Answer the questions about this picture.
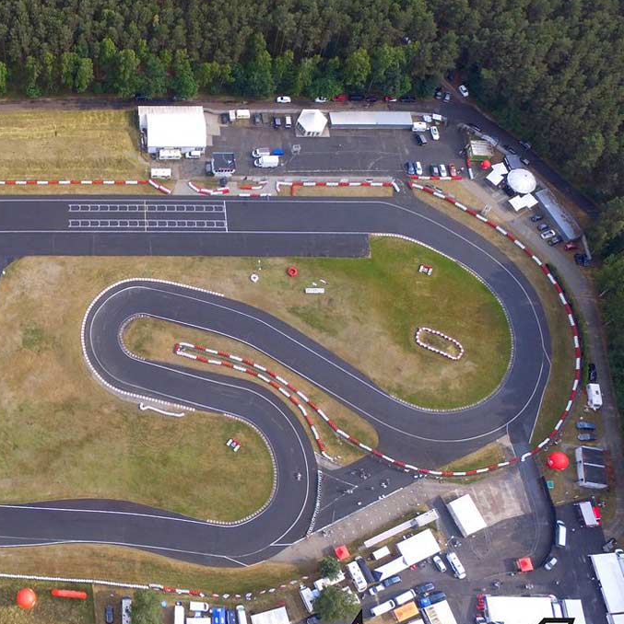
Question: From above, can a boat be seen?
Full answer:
No, the photo shows no boat.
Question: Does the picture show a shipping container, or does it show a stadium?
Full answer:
Visible in the photo is a shipping container.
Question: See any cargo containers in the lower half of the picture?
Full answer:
Yes, I can see a cargo container in the lower half of the picture.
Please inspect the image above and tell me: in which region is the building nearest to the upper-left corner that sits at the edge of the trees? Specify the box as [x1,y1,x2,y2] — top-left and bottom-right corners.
[137,106,207,152]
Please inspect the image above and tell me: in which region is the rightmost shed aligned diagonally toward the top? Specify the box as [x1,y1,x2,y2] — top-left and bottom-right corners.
[532,188,582,244]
